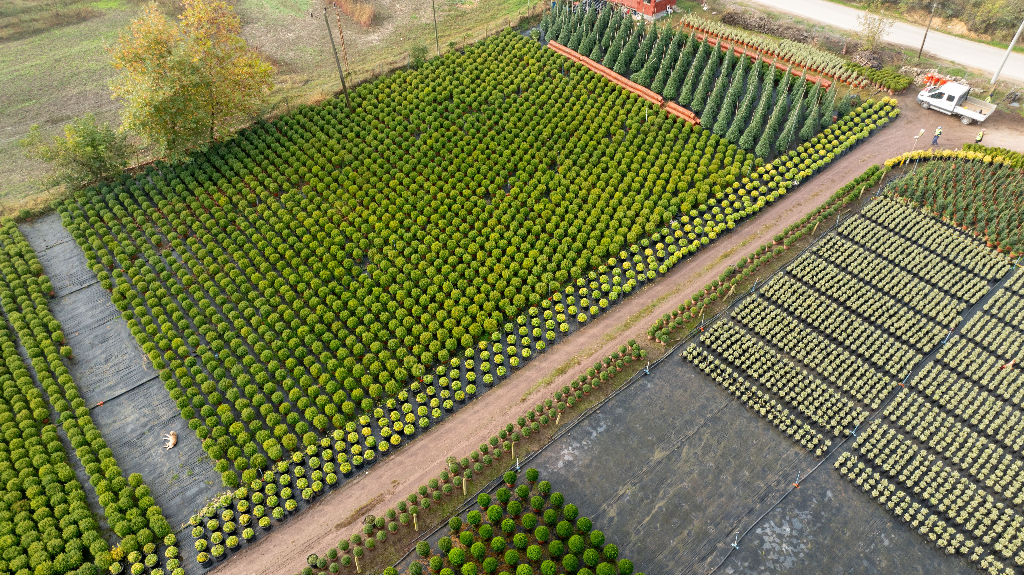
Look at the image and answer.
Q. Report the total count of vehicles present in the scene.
1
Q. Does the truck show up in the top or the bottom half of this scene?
top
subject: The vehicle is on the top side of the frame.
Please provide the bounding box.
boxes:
[915,85,1001,125]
